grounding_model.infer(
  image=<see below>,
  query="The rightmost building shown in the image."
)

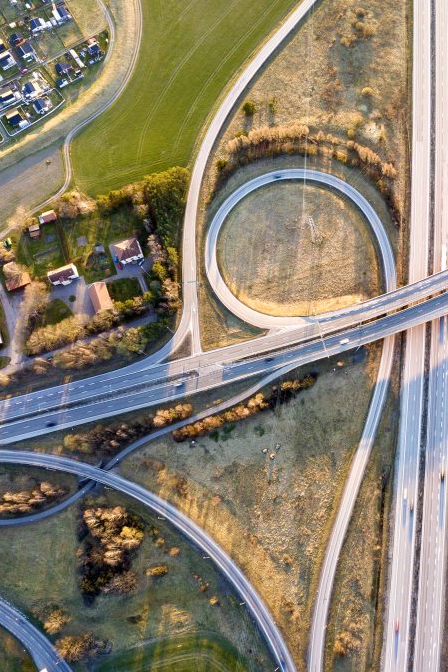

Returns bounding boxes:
[114,237,146,267]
